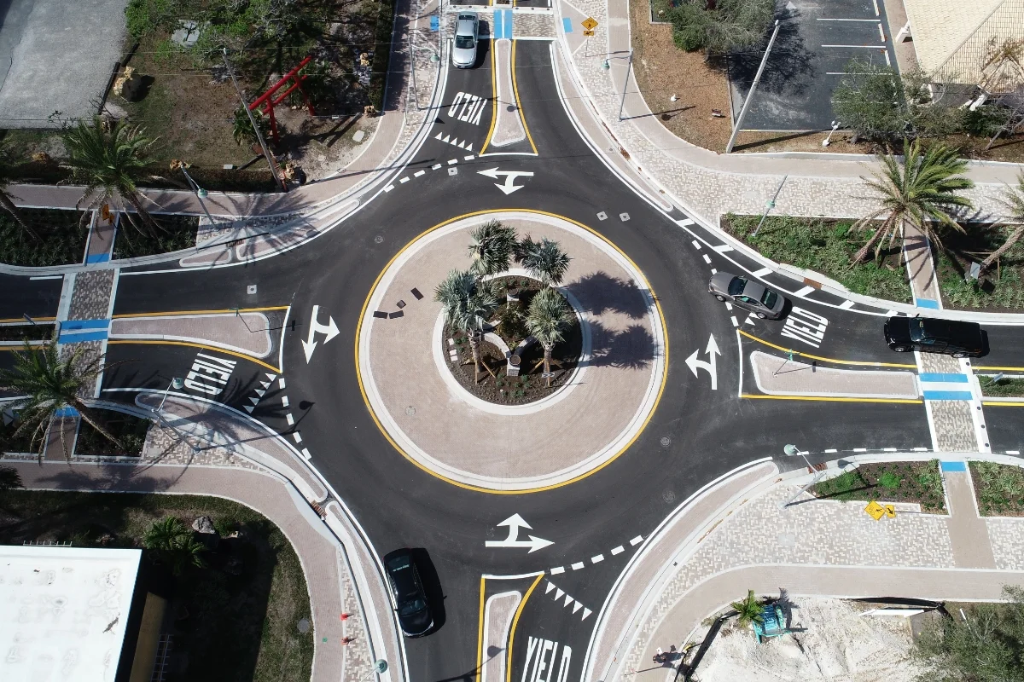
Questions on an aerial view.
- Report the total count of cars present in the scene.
4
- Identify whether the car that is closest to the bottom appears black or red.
black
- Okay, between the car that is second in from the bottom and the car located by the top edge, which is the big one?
the car that is second in from the bottom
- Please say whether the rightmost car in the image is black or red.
black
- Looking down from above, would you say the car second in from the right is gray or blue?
gray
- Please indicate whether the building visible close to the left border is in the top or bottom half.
bottom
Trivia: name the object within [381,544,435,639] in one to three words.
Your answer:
car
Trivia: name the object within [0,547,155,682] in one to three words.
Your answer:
building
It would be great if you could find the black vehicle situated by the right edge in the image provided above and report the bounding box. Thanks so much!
[882,311,991,360]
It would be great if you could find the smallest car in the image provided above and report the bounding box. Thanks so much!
[449,10,481,65]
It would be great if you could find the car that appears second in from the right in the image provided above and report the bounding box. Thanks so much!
[708,270,788,322]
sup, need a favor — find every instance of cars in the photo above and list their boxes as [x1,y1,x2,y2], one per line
[708,270,788,322]
[449,10,481,65]
[882,311,991,360]
[381,544,435,639]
